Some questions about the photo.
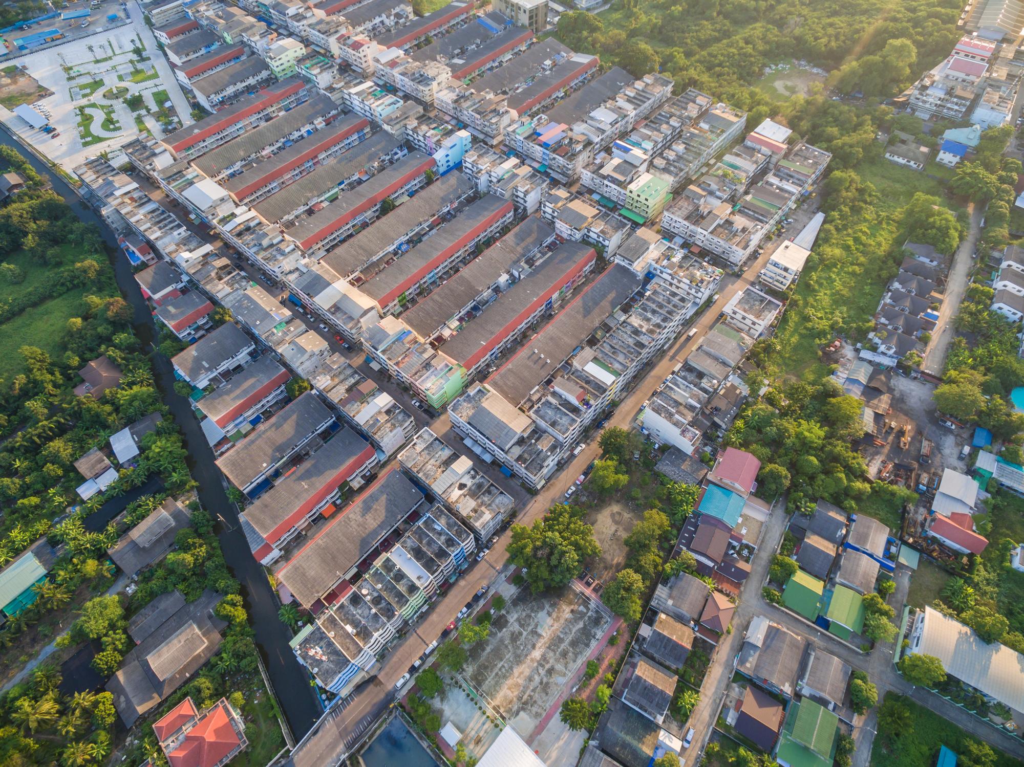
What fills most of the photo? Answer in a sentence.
For the most part, this view shows buildings.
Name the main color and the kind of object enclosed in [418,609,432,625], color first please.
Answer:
gray car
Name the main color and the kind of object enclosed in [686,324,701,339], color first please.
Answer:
white vehicle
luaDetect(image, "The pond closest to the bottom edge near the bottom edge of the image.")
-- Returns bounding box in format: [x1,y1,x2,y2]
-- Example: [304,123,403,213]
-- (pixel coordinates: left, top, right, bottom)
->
[362,715,440,767]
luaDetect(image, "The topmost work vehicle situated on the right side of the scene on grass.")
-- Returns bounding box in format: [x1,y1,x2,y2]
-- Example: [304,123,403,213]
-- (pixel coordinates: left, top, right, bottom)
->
[828,334,845,350]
